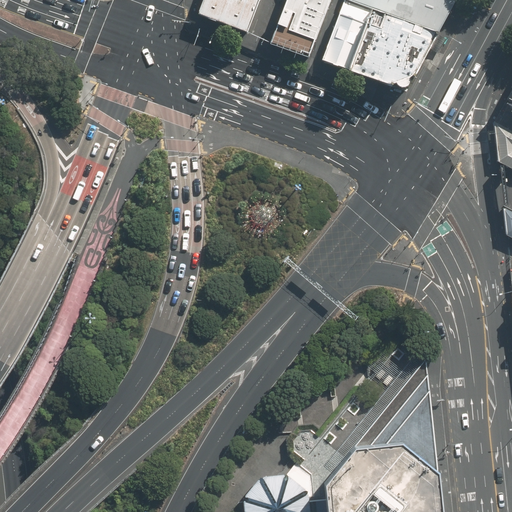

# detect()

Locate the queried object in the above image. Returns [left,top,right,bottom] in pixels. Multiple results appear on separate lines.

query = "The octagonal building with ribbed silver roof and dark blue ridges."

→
[242,474,310,512]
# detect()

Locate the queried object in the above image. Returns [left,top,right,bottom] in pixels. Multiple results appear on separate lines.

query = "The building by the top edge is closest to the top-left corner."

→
[199,0,262,33]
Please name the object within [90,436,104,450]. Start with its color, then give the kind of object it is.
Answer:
white car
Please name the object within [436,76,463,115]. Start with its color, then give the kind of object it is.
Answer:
white bus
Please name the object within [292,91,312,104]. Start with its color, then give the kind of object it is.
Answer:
white vehicle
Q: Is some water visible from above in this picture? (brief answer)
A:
No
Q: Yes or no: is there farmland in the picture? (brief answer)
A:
No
